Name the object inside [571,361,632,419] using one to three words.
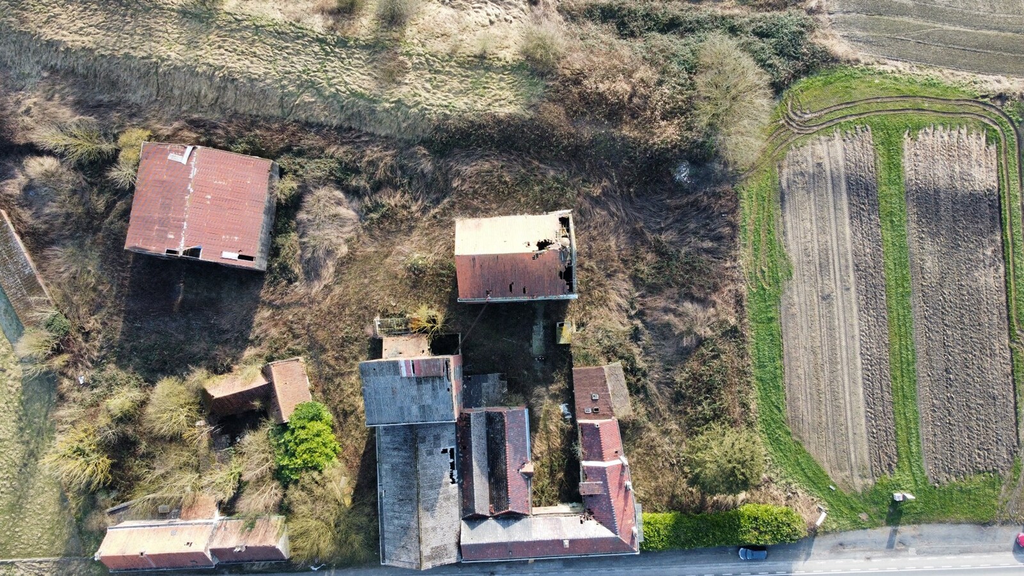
house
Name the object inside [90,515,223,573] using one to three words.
house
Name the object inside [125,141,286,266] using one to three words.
barn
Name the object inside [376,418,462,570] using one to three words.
building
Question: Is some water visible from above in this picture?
No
